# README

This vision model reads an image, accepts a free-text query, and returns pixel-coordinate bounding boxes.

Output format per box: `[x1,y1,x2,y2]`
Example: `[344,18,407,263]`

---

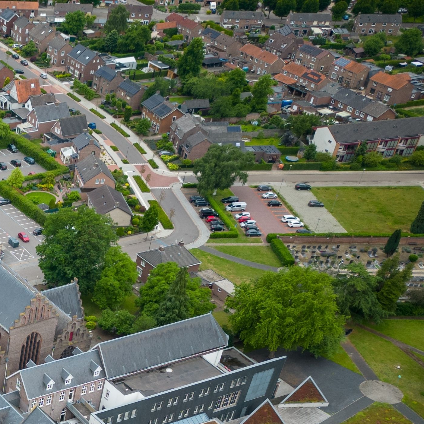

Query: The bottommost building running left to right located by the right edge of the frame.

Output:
[312,114,424,163]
